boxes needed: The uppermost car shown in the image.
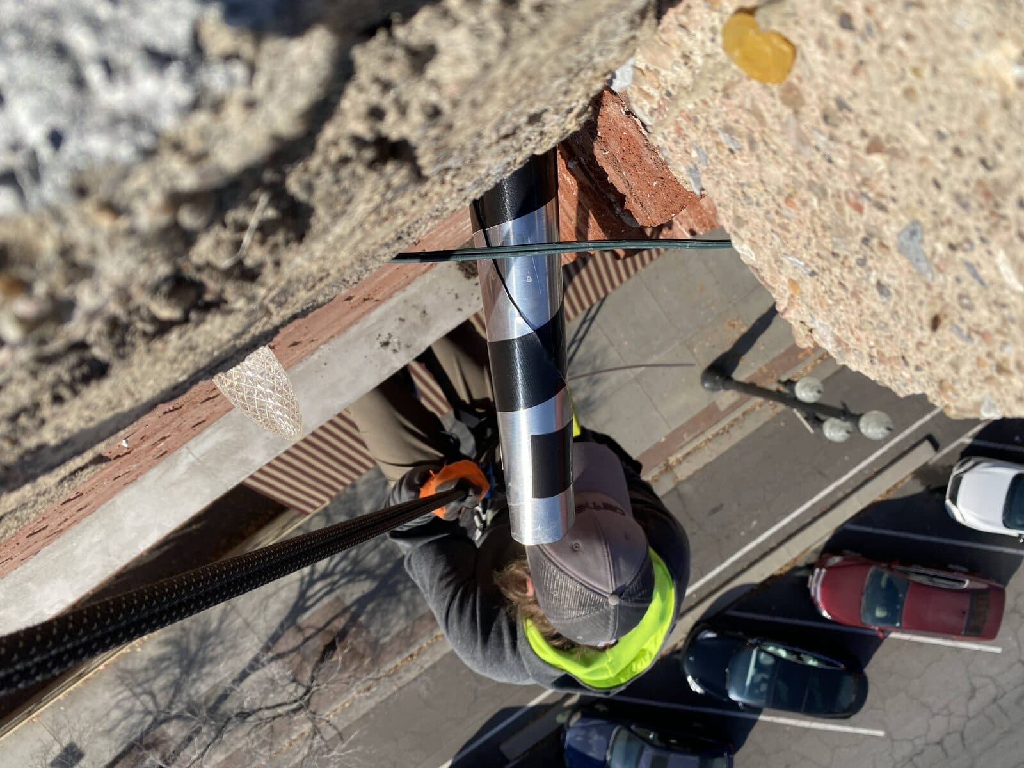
[940,466,1024,560]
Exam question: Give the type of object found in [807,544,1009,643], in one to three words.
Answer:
car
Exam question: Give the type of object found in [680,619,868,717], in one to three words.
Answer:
car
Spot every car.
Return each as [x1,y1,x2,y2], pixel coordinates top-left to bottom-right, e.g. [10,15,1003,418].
[680,619,868,717]
[559,705,735,768]
[940,466,1024,560]
[807,544,1009,643]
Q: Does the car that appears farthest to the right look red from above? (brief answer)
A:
No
